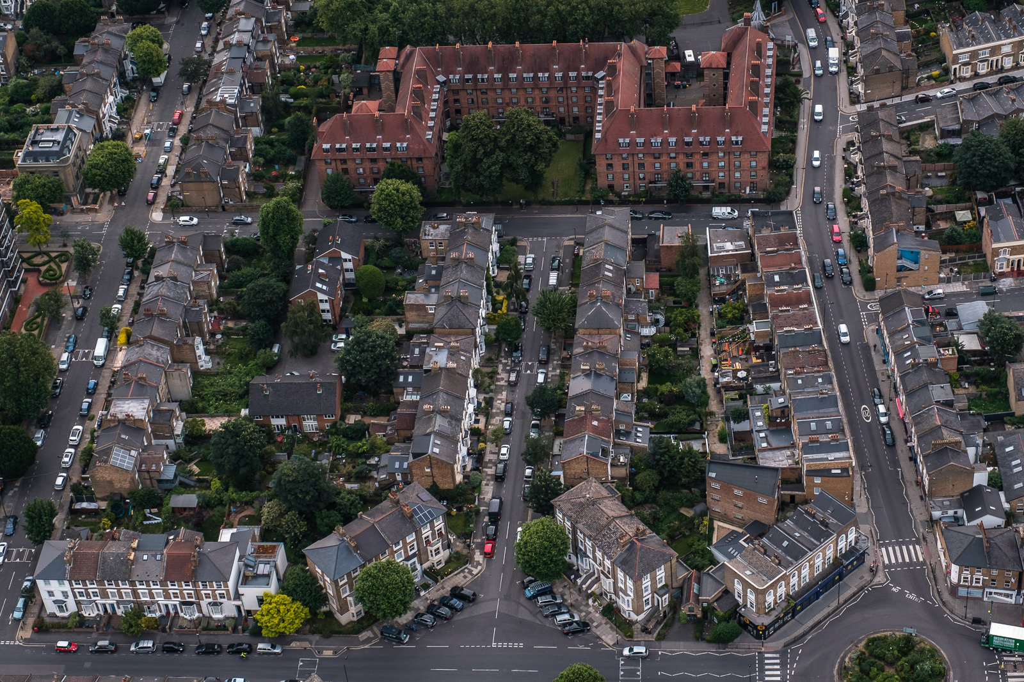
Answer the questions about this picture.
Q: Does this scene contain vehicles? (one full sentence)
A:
Yes, the frame does contain a vehicle.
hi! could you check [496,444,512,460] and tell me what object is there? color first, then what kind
white car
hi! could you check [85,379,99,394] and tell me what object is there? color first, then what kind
blue car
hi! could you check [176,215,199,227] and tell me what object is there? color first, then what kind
white vehicle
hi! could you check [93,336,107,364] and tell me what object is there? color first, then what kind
white vehicle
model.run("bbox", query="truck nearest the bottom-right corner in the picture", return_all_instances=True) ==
[981,628,1024,660]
